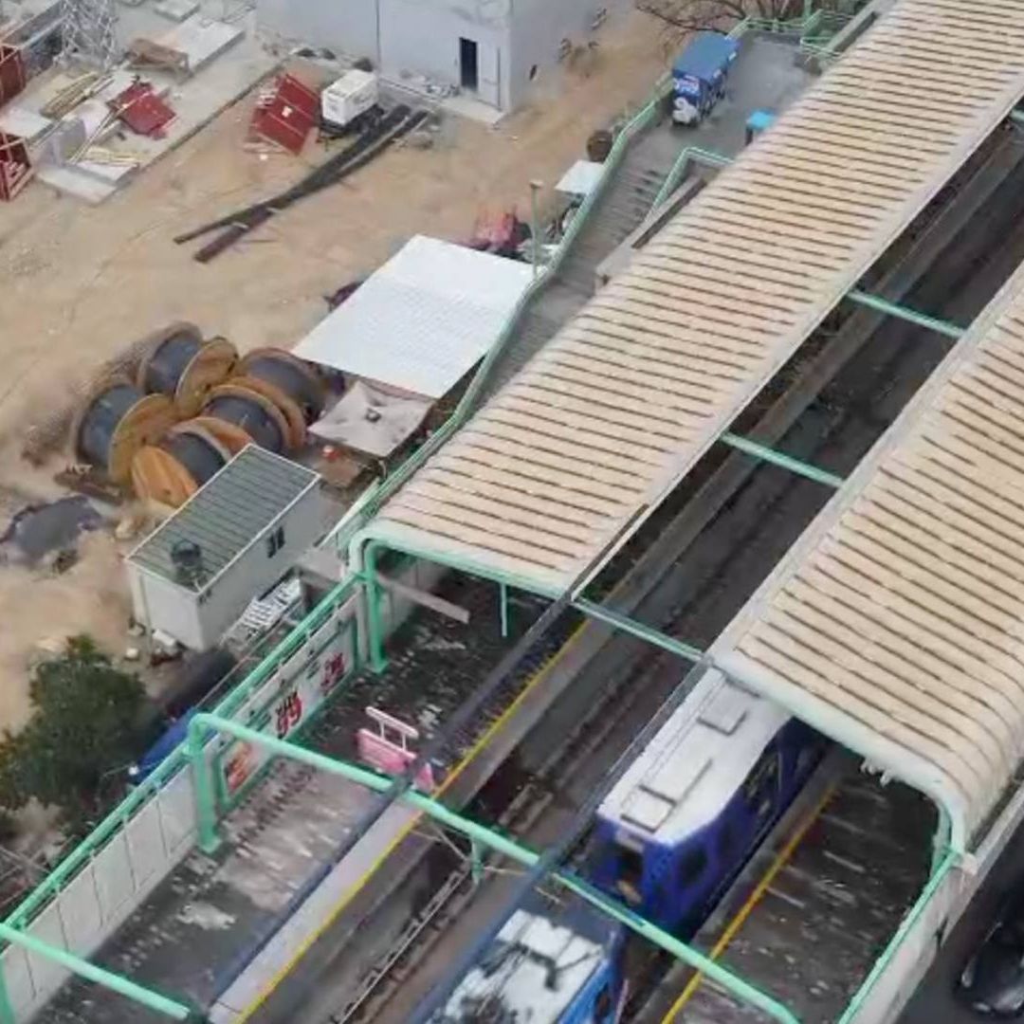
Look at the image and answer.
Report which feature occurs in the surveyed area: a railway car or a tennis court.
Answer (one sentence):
The one in the frame is a railway car.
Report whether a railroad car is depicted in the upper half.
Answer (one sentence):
No, there's no railroad car to be seen in the upper half.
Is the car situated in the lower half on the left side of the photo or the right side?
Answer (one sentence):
The car situated in the lower half is on the right side of the image.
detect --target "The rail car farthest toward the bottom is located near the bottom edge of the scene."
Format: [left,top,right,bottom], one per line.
[419,885,625,1024]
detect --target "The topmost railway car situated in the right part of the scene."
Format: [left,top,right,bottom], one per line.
[596,664,832,937]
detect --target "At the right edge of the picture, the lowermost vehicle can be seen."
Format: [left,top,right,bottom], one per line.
[965,865,1024,1006]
